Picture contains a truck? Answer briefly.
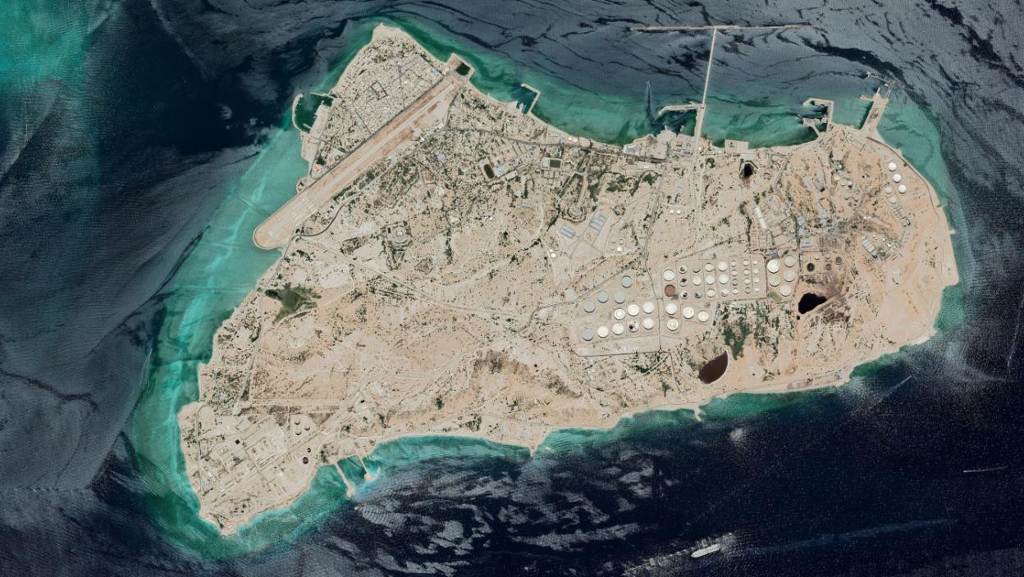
No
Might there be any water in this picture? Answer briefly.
Yes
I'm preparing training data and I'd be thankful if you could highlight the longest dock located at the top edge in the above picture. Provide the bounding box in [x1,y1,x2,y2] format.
[629,25,812,109]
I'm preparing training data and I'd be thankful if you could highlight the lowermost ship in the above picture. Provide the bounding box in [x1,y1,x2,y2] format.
[692,545,720,557]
